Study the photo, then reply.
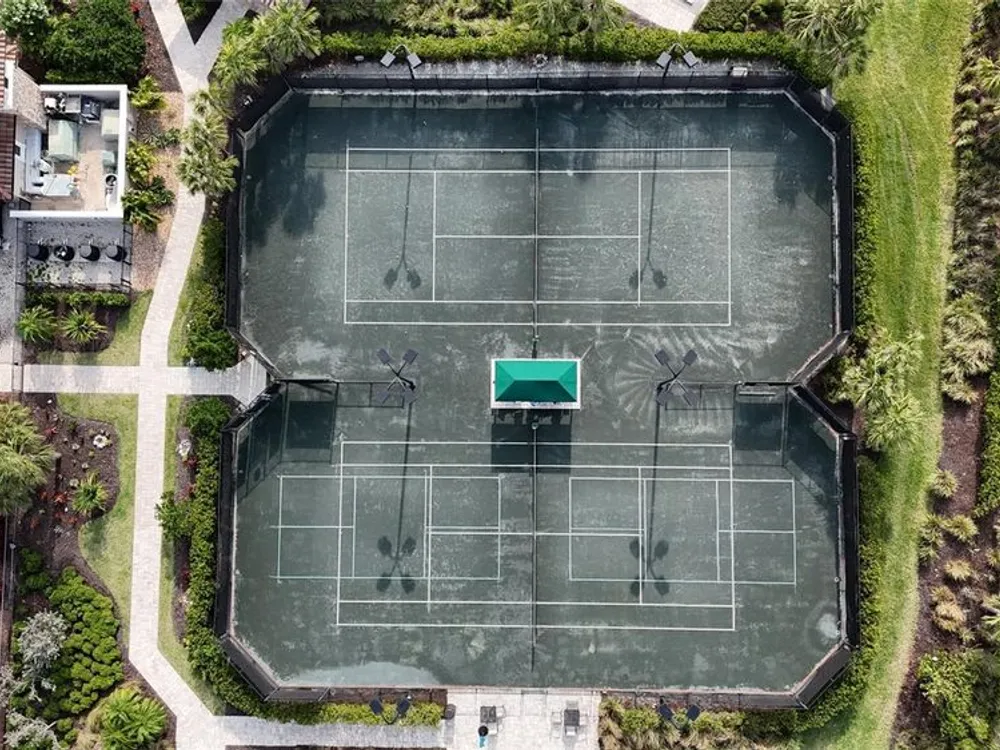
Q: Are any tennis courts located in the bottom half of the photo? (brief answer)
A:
Yes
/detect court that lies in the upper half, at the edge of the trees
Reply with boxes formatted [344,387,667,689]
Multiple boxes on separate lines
[242,93,837,382]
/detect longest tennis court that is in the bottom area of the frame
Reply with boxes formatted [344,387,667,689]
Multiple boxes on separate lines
[233,379,843,690]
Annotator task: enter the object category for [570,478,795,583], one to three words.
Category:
sports court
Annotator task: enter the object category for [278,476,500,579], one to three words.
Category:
sports court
